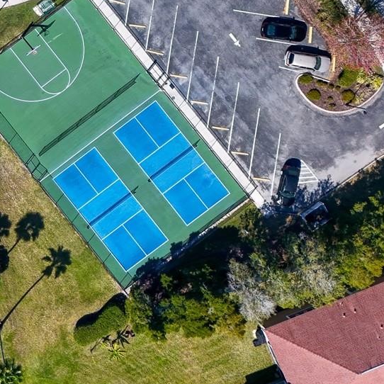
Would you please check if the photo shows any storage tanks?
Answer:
No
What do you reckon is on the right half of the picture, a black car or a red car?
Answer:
black car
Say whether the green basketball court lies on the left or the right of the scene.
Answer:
left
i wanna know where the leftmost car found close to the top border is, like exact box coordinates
[258,19,307,41]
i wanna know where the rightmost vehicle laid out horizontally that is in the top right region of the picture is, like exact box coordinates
[283,51,332,73]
